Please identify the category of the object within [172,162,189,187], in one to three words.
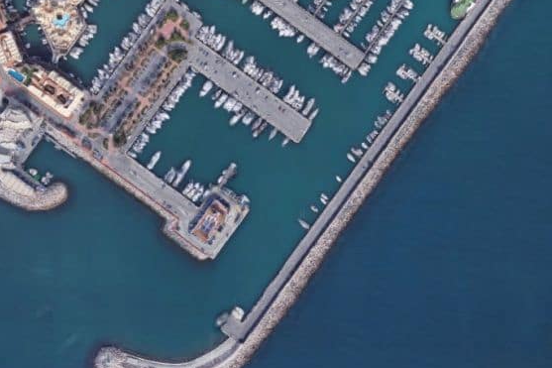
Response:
boat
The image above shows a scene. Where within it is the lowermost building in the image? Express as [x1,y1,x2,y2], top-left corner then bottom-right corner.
[192,201,227,239]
